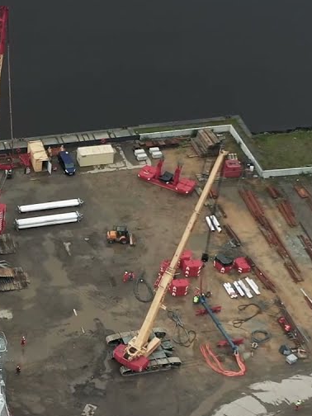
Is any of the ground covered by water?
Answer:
Yes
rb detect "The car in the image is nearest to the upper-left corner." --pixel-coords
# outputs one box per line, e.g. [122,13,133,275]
[60,153,76,171]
